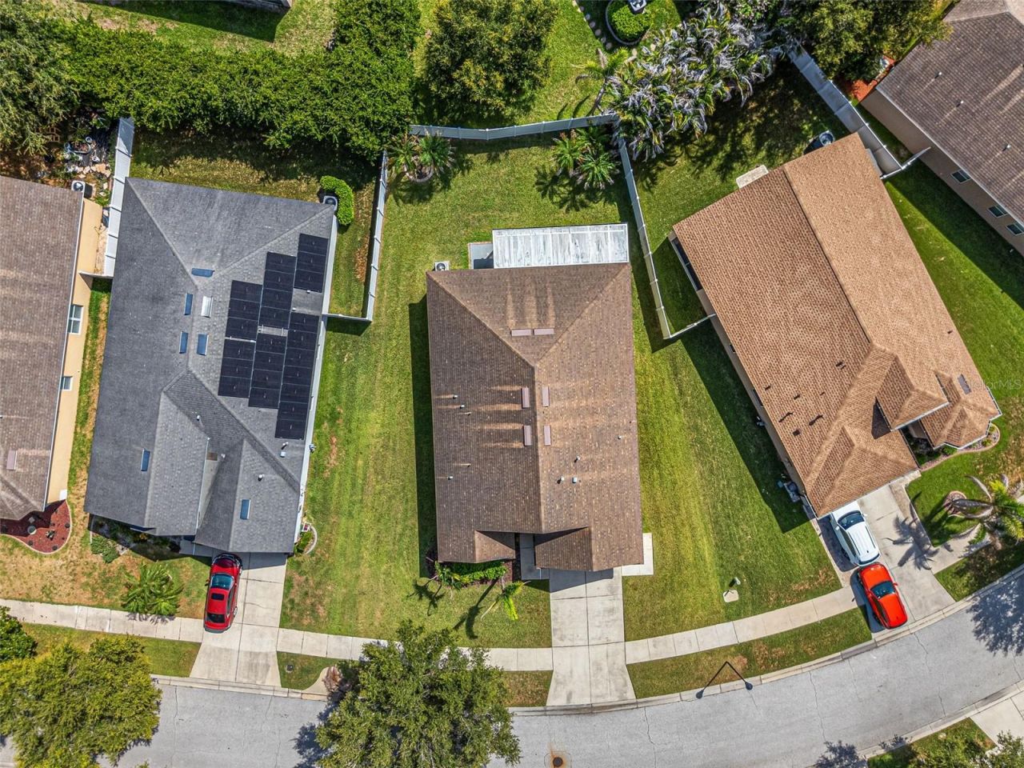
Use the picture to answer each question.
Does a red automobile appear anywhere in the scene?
Yes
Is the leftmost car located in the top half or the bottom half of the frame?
bottom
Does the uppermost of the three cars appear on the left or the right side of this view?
right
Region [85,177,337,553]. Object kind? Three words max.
house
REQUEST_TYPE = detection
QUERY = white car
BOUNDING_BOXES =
[830,499,884,566]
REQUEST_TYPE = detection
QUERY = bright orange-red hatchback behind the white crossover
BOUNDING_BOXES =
[858,561,911,632]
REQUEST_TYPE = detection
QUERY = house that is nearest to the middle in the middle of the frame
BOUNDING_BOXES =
[425,262,642,571]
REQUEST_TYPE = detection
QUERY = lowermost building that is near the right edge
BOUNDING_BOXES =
[672,134,1001,519]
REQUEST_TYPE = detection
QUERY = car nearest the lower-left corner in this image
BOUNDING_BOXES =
[203,551,243,633]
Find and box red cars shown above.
[203,551,243,633]
[858,561,911,632]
